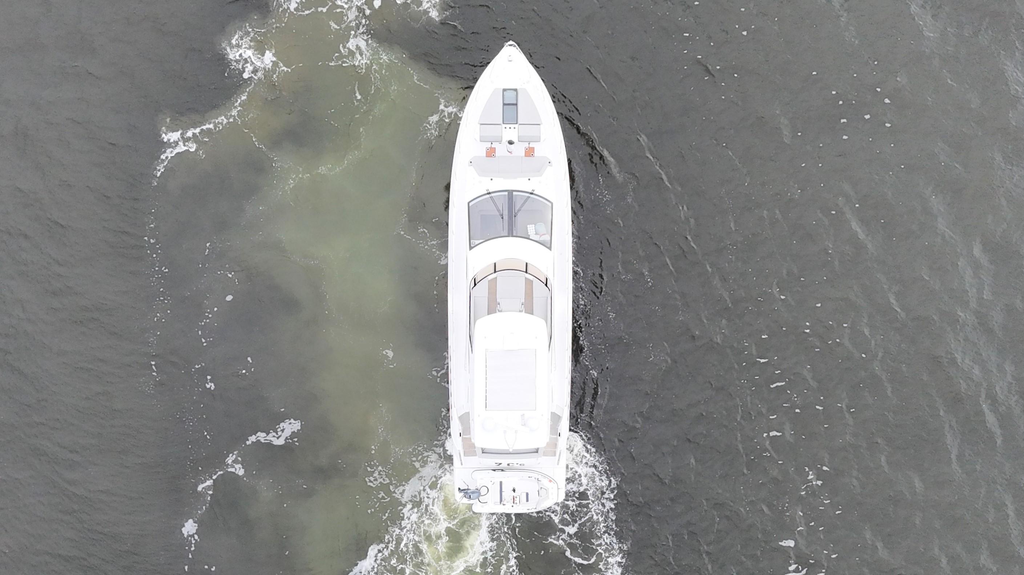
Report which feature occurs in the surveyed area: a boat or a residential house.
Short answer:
boat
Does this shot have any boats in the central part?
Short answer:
Yes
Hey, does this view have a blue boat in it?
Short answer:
No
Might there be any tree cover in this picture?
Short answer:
No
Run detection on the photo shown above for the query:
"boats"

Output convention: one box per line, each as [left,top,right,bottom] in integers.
[448,40,572,503]
[458,469,558,514]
